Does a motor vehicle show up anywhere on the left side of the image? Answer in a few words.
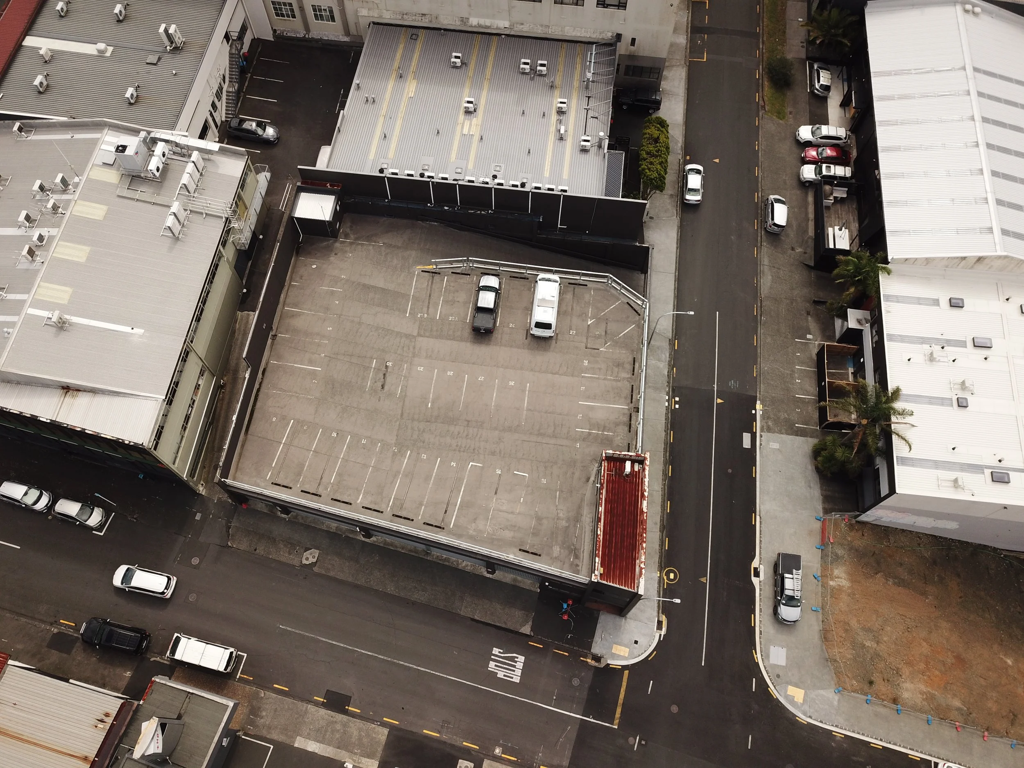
Yes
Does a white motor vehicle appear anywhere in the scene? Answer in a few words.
Yes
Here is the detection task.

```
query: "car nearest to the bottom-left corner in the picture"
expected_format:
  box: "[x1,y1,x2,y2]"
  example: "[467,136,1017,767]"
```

[78,614,154,656]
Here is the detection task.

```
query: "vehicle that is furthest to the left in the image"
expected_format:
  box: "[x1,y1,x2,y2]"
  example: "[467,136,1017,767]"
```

[0,476,57,511]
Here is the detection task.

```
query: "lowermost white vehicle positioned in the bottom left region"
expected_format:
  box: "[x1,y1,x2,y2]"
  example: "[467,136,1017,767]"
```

[167,629,240,672]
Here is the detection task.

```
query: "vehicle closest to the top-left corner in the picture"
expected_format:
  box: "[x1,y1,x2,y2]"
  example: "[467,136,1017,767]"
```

[225,115,282,145]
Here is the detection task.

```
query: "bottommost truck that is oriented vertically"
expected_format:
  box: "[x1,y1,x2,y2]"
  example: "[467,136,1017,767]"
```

[775,552,808,624]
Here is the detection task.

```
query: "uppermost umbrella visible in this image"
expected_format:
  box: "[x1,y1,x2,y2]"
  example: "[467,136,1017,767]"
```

[817,183,839,203]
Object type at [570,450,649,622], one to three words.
building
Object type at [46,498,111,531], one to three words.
car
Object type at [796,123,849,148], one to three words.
car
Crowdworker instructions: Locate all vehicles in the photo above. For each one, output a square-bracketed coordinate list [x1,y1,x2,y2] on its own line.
[796,123,849,148]
[112,563,180,599]
[225,115,282,145]
[78,614,154,656]
[531,274,563,339]
[809,62,833,101]
[472,275,502,335]
[775,552,808,624]
[46,498,111,531]
[167,629,240,672]
[682,164,707,208]
[801,144,852,165]
[617,86,664,113]
[764,196,790,237]
[0,476,57,511]
[799,161,853,187]
[937,757,976,768]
